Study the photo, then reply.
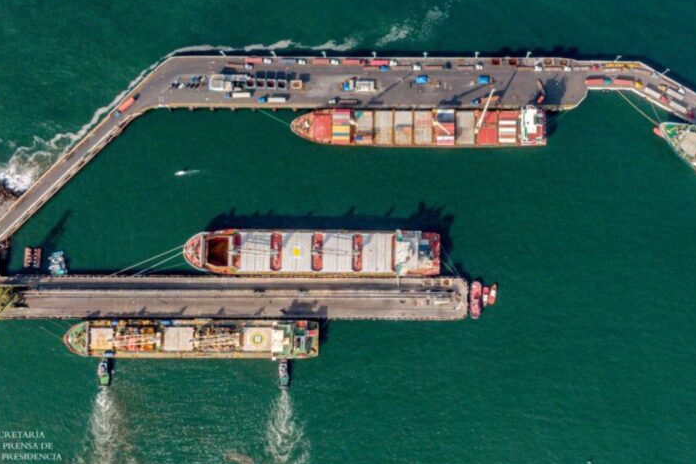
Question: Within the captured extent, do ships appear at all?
Yes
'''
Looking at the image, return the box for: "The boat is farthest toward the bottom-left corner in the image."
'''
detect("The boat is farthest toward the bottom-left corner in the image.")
[98,358,111,388]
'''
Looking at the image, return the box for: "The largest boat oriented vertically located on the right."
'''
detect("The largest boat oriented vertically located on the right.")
[470,281,482,319]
